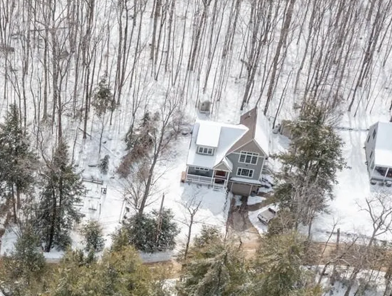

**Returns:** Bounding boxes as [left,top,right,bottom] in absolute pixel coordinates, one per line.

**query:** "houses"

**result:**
[186,104,282,215]
[359,116,392,181]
